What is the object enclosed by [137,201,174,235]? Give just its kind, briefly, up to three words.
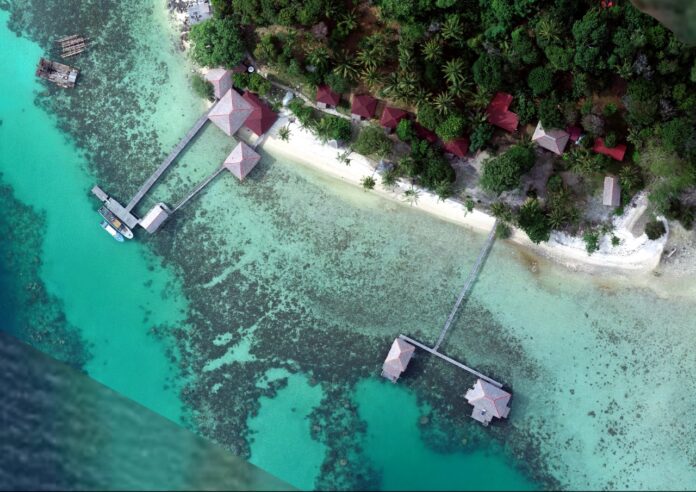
building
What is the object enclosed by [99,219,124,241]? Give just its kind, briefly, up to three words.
boat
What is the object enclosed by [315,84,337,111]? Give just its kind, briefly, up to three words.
house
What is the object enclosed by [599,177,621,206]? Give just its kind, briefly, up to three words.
shed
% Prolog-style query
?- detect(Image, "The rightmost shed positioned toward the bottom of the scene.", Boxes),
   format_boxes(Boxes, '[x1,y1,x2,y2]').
[465,379,512,426]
